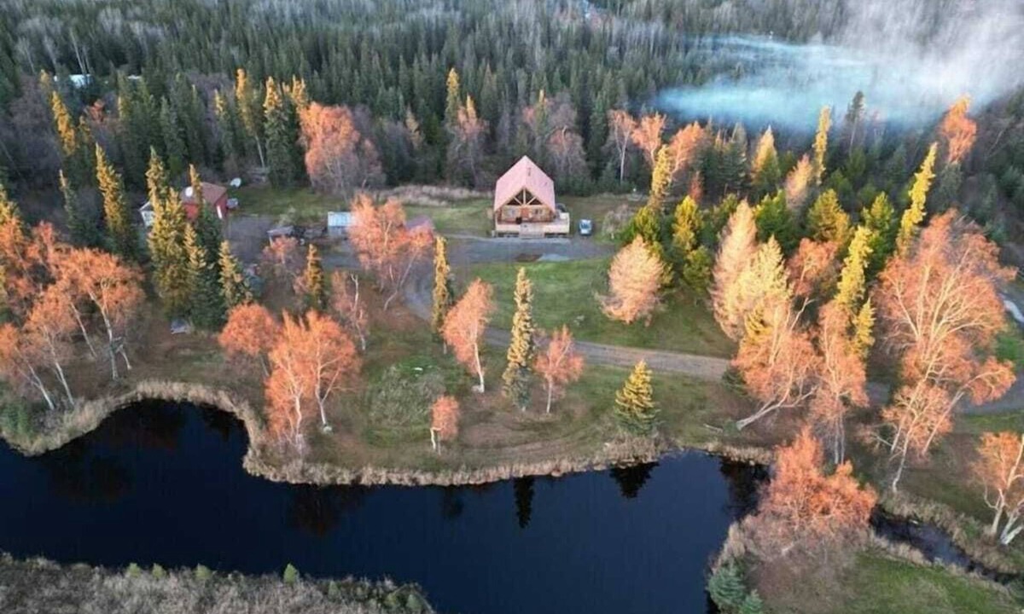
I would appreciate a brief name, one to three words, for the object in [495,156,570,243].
building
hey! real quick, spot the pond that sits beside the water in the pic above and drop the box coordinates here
[0,403,1024,614]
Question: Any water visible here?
Yes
